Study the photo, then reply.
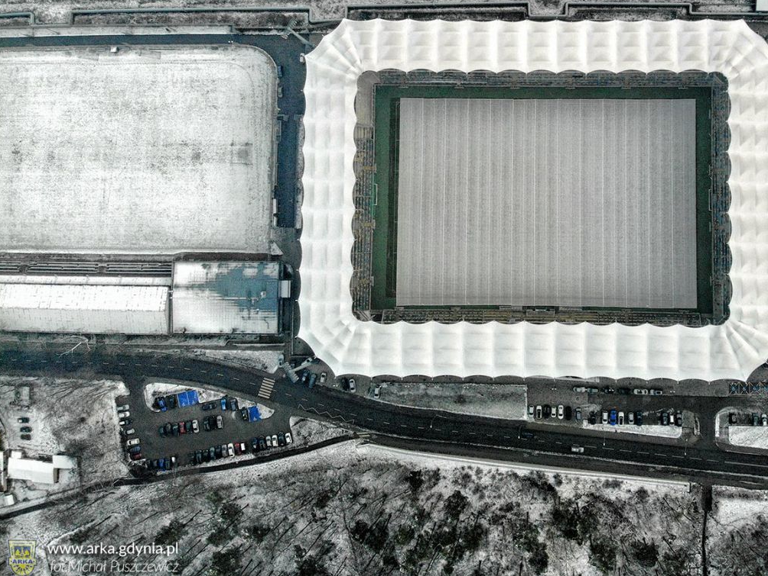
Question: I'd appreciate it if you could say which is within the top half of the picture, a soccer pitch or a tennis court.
soccer pitch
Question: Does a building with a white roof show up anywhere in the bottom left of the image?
Yes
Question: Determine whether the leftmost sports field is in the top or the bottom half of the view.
top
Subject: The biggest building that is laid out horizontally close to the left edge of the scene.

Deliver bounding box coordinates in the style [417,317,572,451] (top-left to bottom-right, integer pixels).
[3,457,62,485]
